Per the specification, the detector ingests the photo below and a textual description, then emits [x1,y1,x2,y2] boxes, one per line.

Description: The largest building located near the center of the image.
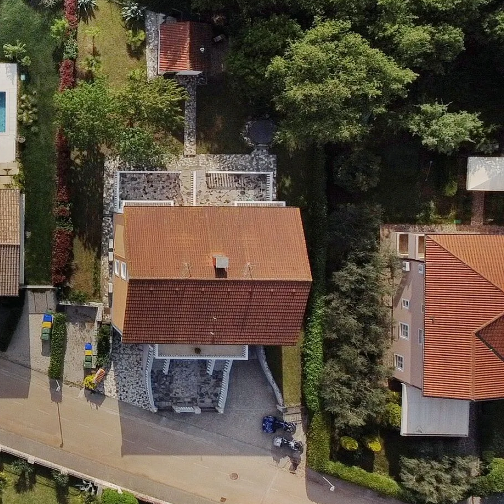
[112,171,313,418]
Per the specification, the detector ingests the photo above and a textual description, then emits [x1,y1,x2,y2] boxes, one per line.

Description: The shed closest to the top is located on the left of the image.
[154,20,214,75]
